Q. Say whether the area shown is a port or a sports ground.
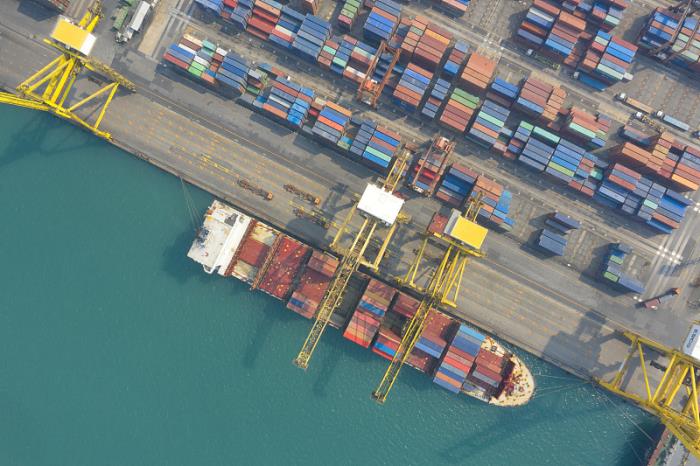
port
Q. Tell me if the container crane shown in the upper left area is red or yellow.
yellow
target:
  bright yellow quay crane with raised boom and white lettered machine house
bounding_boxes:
[600,323,700,454]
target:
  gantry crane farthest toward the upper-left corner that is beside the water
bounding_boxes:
[0,0,132,134]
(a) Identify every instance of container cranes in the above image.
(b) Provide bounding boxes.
[375,192,492,407]
[0,0,132,134]
[401,135,455,200]
[352,40,403,117]
[295,152,414,368]
[633,0,700,72]
[600,323,700,454]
